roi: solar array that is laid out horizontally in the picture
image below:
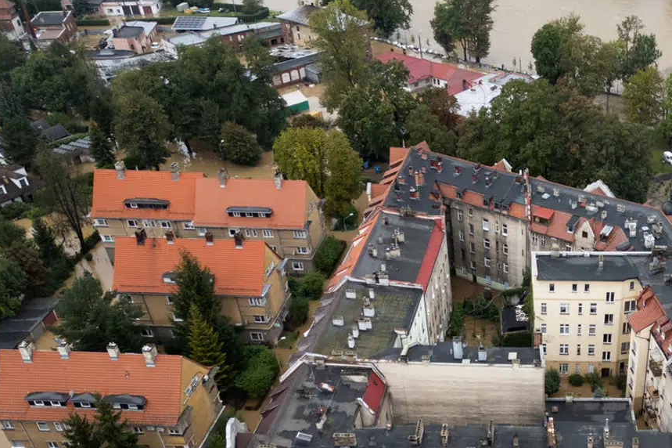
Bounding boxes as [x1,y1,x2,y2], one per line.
[174,18,207,30]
